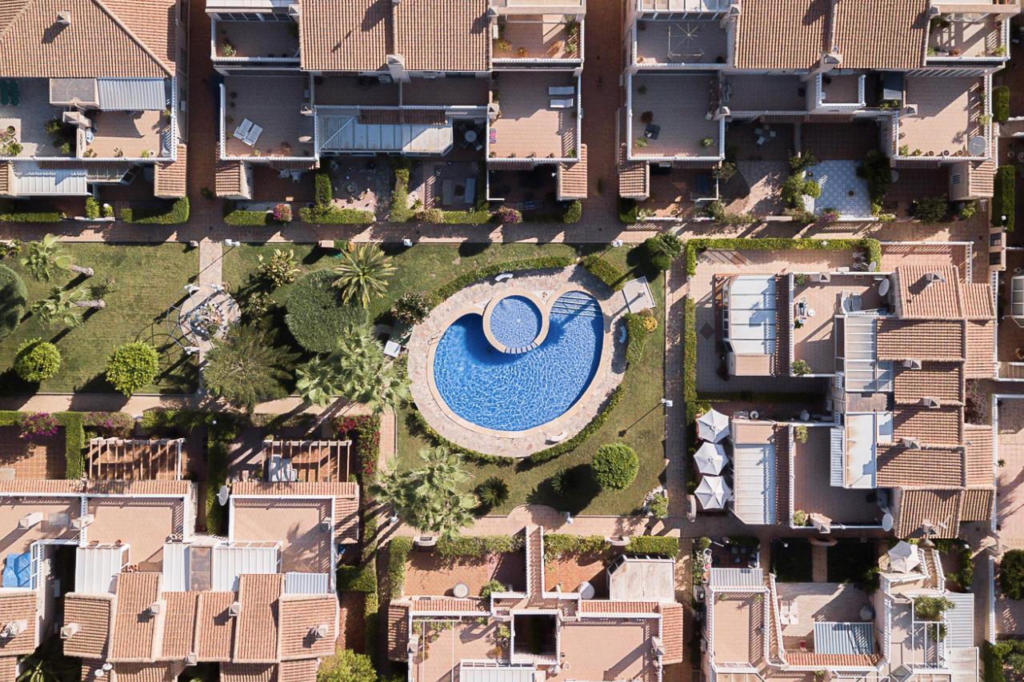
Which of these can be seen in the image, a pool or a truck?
pool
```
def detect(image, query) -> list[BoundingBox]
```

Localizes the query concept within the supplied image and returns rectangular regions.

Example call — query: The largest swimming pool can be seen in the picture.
[425,283,611,438]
